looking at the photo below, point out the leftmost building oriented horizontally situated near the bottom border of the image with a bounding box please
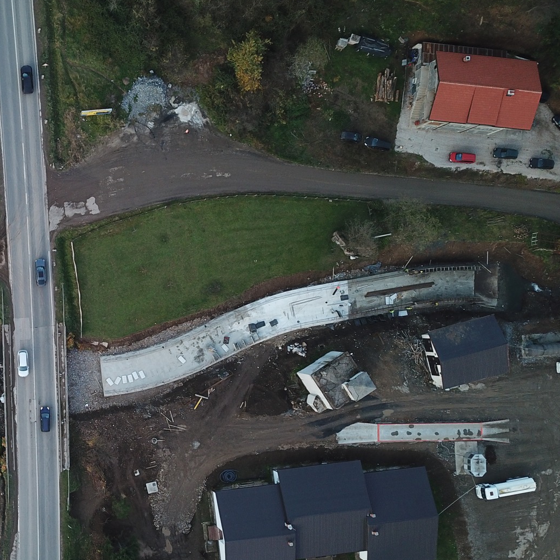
[196,458,437,560]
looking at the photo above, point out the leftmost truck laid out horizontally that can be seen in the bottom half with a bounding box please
[479,478,546,506]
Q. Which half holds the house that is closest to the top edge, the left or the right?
right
